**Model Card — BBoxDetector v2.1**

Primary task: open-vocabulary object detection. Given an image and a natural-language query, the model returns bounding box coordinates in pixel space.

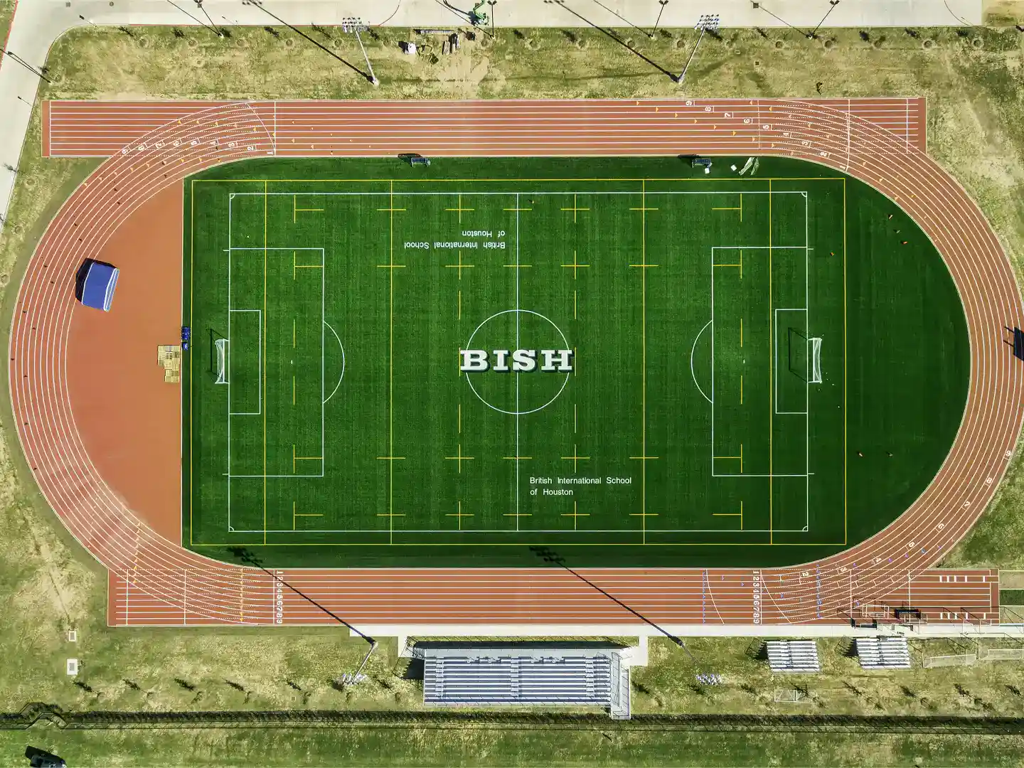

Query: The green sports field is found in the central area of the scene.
[183,158,968,566]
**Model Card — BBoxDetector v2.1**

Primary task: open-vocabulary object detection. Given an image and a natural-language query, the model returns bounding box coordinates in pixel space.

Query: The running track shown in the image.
[8,97,1024,627]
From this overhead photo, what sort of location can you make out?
sports ground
